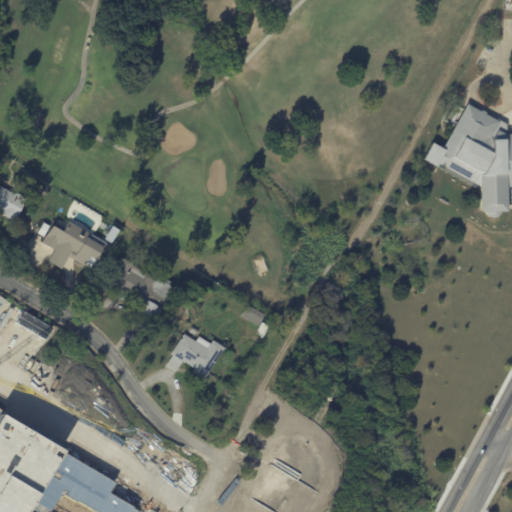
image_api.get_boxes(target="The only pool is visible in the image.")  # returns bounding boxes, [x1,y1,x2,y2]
[67,201,102,231]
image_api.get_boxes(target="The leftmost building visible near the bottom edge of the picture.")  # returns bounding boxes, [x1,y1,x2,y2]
[0,414,70,512]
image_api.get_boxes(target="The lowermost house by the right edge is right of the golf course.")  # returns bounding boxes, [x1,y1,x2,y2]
[426,102,512,218]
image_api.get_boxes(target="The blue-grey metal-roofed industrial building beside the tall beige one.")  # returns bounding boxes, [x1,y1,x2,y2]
[40,454,150,512]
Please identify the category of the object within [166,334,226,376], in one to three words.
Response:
house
